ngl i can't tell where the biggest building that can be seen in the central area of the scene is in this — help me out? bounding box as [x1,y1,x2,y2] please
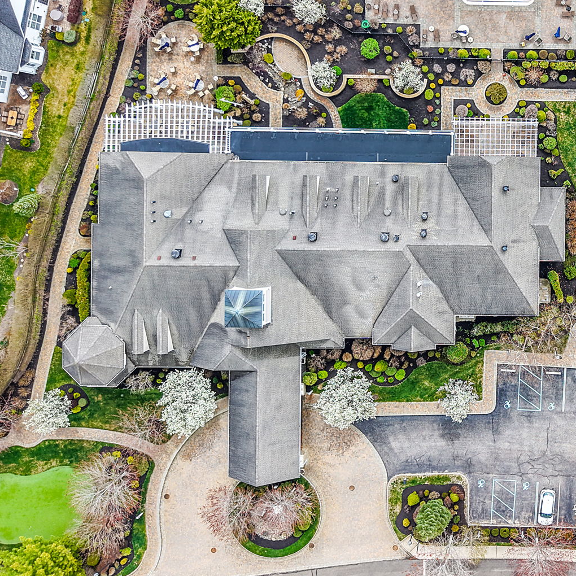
[62,125,567,487]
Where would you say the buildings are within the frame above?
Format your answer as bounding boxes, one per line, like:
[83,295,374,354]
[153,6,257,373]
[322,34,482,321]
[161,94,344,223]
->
[0,0,50,124]
[62,125,567,487]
